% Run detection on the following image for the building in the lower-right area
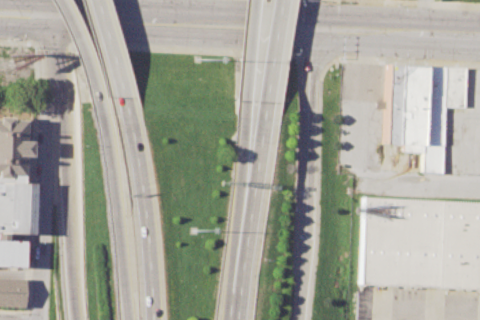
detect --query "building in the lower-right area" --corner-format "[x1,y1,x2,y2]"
[360,196,480,289]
